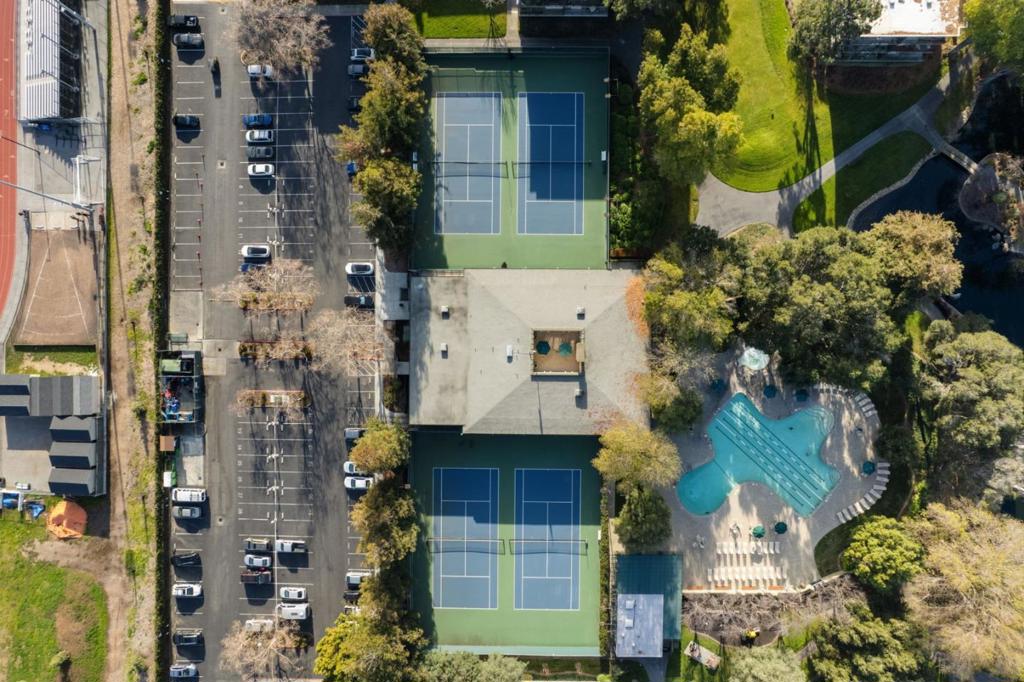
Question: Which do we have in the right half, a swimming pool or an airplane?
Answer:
swimming pool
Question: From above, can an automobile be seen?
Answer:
Yes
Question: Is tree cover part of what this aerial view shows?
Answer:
Yes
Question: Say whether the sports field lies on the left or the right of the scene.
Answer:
left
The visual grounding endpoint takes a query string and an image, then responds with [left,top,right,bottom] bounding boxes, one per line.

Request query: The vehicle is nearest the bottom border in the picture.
[170,663,201,679]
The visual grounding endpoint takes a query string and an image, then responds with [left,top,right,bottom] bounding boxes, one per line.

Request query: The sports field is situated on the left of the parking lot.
[14,209,97,345]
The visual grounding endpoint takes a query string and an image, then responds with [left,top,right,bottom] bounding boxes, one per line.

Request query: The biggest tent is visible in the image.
[49,501,87,537]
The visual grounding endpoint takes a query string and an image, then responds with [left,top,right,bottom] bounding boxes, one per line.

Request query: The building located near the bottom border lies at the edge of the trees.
[613,550,683,657]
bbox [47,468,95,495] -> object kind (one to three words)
shed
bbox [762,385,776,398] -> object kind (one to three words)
umbrella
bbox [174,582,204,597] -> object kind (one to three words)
car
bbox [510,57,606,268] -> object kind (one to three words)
tennis court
